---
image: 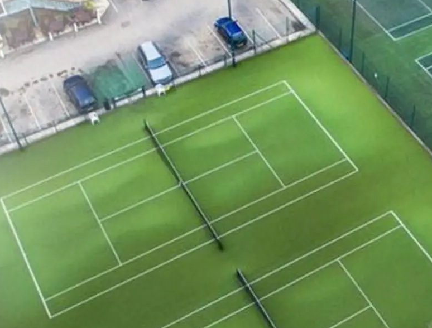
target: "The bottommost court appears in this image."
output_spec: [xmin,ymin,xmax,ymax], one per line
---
[167,211,432,328]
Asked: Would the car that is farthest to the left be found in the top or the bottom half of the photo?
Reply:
top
